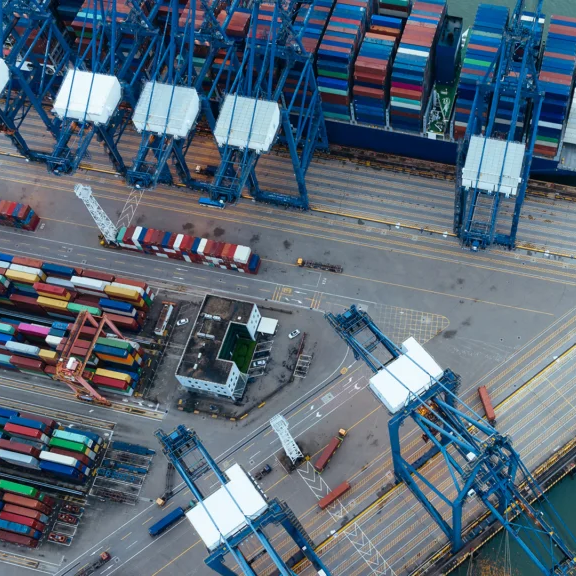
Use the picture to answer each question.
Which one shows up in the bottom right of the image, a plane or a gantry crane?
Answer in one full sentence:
The feature located in the bottom right of the image is a gantry crane.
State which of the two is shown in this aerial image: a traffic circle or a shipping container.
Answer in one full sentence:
Looking from above, you can make out a shipping container.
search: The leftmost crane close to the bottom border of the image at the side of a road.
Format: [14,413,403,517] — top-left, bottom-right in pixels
[156,418,325,576]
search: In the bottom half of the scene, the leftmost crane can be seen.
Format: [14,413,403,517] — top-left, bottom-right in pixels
[50,308,133,401]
